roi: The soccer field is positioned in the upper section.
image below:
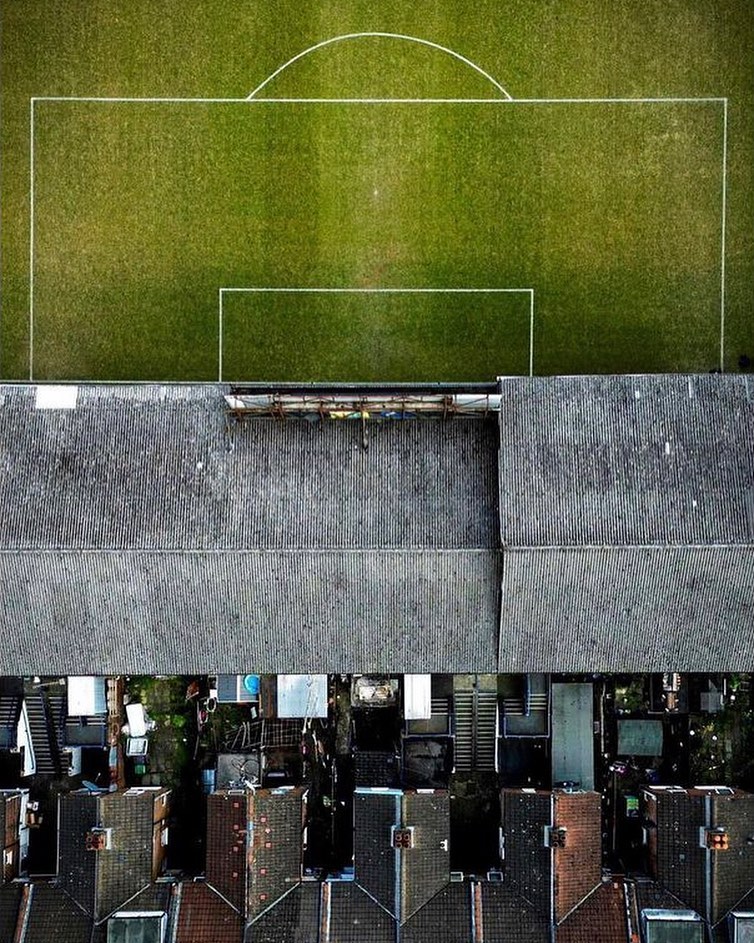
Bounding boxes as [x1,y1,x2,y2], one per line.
[0,0,754,390]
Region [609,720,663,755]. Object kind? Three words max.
shed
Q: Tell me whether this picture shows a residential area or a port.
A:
residential area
